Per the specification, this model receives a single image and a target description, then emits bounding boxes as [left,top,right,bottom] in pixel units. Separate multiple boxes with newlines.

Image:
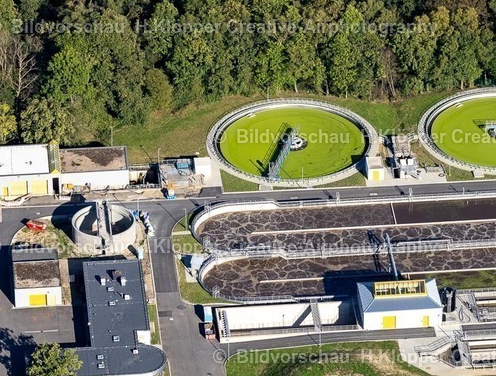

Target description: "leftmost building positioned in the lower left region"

[11,250,62,308]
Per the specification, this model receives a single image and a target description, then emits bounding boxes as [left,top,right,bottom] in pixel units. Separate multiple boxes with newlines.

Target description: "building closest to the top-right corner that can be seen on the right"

[392,130,420,180]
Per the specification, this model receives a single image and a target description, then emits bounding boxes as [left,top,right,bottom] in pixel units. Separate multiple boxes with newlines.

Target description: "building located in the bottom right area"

[359,278,443,330]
